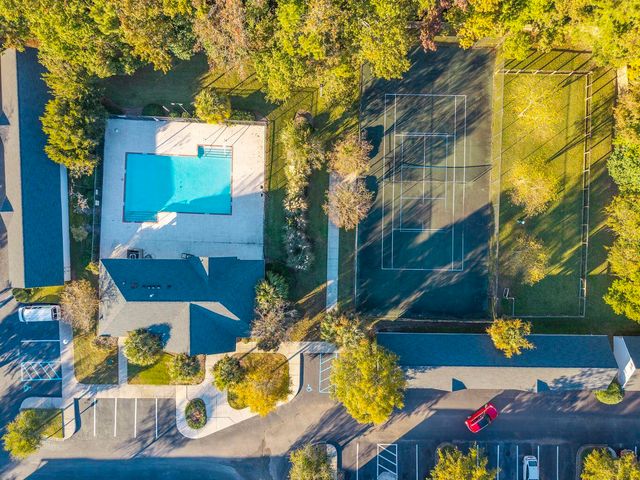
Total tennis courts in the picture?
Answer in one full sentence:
The photo contains exactly 1 tennis court.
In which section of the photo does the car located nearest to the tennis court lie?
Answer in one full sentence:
You can find the car located nearest to the tennis court in the bottom right area of the picture.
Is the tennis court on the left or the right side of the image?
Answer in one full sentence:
The tennis court appears in the right half of the scene.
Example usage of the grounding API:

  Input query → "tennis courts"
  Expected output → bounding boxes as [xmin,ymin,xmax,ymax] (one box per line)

[355,49,494,321]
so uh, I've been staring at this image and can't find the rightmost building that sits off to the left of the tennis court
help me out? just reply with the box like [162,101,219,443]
[98,257,264,358]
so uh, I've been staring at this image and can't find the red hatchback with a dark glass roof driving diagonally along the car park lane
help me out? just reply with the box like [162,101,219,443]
[464,403,496,432]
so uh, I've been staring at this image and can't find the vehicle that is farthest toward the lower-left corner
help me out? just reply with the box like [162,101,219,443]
[20,304,64,323]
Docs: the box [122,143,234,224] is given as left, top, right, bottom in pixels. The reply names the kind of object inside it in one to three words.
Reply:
swimming pool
